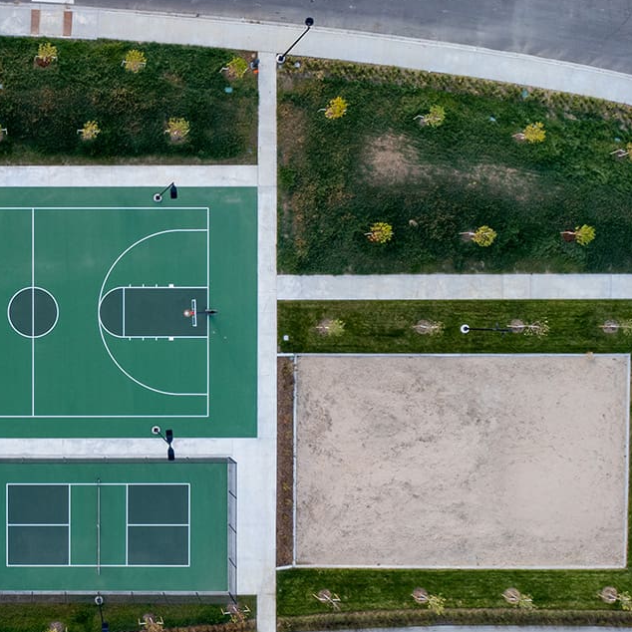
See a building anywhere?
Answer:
No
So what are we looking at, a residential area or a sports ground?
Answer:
sports ground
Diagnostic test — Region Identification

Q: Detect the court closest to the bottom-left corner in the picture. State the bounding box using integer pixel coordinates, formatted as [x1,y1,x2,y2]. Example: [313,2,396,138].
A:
[0,458,228,591]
